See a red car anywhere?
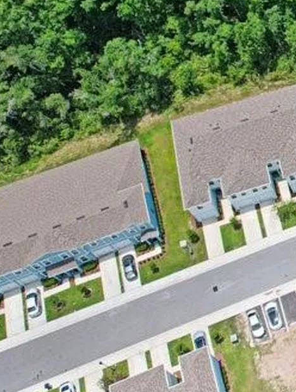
No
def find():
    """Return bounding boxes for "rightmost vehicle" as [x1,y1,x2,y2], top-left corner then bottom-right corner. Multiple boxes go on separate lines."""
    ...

[265,300,282,332]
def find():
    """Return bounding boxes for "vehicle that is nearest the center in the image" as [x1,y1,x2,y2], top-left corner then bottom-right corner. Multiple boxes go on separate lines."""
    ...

[121,252,140,283]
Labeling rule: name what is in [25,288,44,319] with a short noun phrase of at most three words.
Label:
car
